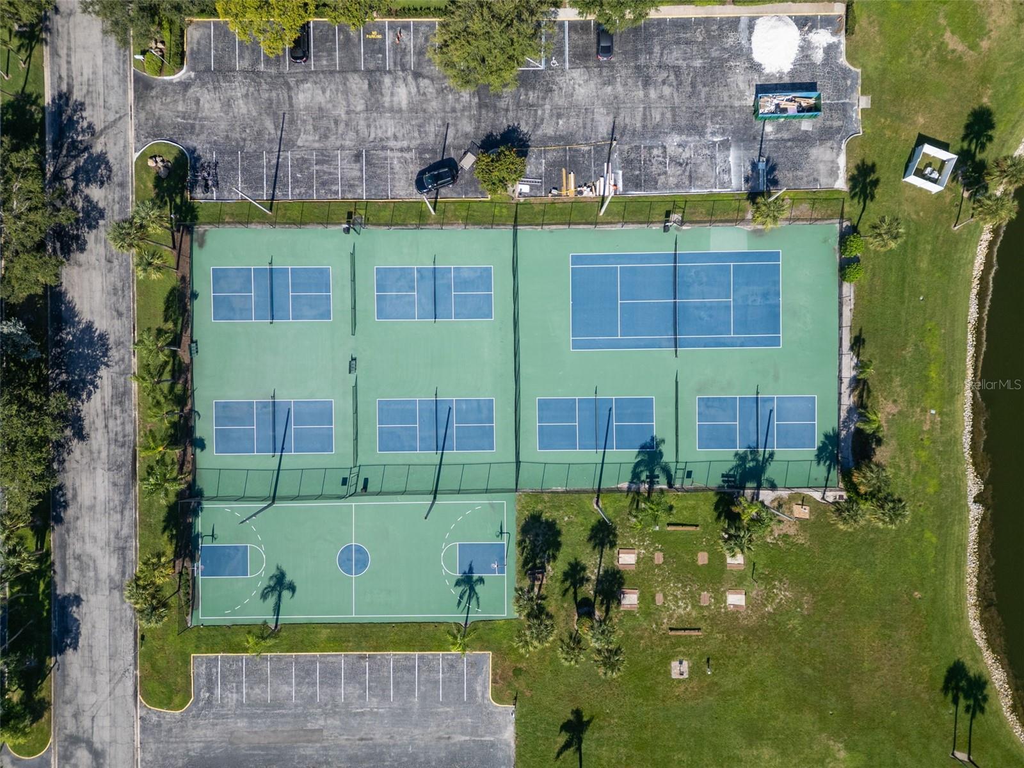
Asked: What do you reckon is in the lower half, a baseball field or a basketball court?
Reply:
basketball court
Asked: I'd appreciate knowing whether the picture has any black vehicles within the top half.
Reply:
Yes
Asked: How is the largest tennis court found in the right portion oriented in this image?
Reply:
from left to right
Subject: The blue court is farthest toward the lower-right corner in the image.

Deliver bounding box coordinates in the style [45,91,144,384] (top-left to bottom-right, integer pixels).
[697,395,817,451]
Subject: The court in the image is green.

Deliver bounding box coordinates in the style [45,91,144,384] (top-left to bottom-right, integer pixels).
[191,492,516,629]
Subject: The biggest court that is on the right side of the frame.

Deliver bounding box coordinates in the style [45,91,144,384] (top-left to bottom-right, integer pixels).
[570,250,782,351]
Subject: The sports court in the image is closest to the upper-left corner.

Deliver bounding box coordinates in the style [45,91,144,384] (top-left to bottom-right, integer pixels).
[212,266,332,322]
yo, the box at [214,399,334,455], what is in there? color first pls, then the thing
blue sports court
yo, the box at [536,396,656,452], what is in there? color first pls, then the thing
blue sports court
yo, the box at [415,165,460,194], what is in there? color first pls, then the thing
black car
